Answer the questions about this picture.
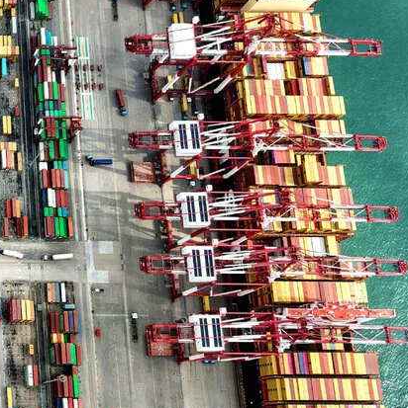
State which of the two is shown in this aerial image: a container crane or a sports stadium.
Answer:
container crane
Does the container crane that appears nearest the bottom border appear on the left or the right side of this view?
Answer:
right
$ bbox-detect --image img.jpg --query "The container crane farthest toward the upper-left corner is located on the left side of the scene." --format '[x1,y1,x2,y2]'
[27,45,81,77]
